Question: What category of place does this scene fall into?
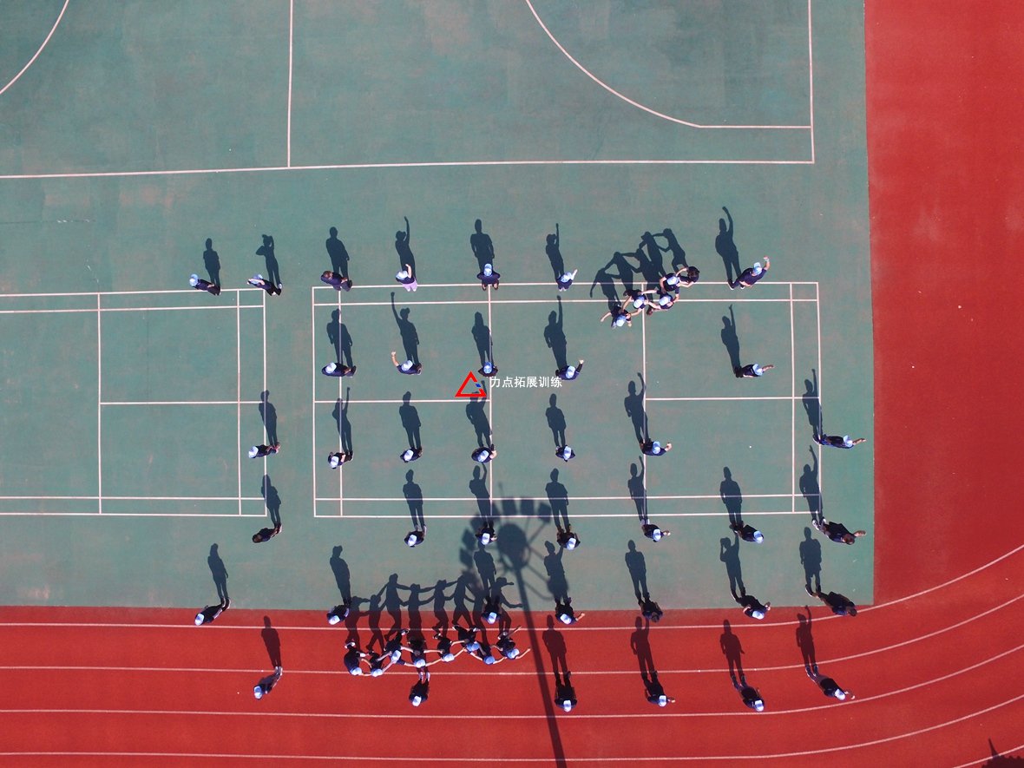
sports ground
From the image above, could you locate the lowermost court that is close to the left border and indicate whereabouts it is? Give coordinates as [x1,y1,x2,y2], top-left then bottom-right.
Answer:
[0,288,267,517]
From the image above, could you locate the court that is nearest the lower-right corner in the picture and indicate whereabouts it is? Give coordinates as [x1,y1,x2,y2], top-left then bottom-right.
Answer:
[312,281,822,518]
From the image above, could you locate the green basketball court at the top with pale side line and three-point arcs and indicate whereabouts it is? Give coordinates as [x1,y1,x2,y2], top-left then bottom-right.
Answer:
[0,0,815,179]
